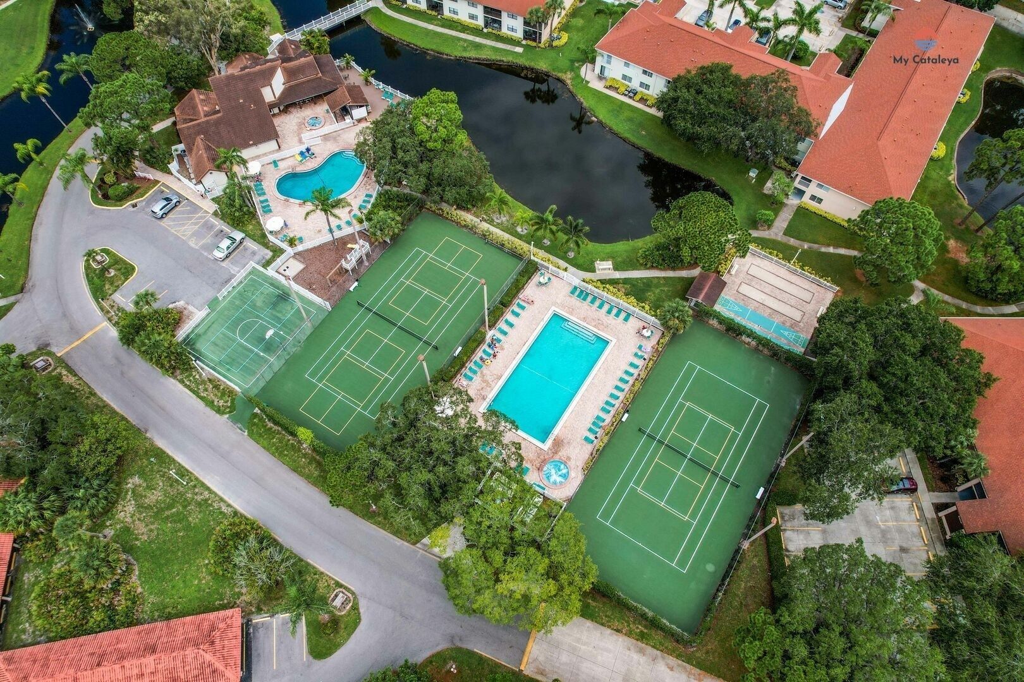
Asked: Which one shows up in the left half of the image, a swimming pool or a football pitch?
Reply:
swimming pool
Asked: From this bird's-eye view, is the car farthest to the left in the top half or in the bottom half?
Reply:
top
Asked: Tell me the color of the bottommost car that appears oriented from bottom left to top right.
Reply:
white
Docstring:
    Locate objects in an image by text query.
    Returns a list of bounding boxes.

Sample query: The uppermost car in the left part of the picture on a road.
[148,191,179,216]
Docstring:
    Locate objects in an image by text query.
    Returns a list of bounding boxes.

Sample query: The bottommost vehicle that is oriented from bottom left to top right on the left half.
[209,228,245,259]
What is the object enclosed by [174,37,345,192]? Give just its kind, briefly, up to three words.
building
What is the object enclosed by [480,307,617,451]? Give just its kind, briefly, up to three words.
swimming pool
